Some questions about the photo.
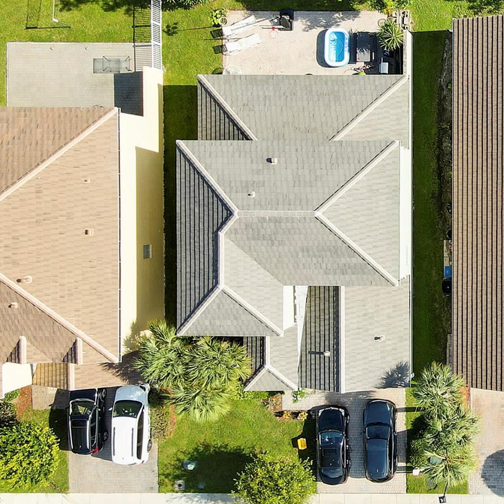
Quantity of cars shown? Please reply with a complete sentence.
My tally gives 4 cars in this view.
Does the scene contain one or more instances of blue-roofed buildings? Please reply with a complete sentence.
No, the scene contains no blue-roofed building.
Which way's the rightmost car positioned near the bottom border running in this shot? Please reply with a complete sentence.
From this overhead view, the rightmost car positioned near the bottom border appears to run from top to bottom.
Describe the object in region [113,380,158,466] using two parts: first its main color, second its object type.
white car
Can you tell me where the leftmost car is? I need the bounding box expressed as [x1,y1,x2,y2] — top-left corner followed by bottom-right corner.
[67,388,112,461]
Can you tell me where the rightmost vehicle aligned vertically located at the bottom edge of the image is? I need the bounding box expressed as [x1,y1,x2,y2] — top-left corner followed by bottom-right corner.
[360,397,400,481]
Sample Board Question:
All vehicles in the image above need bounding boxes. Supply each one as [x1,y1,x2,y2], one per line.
[360,397,400,481]
[67,388,112,461]
[113,380,158,466]
[316,403,355,487]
